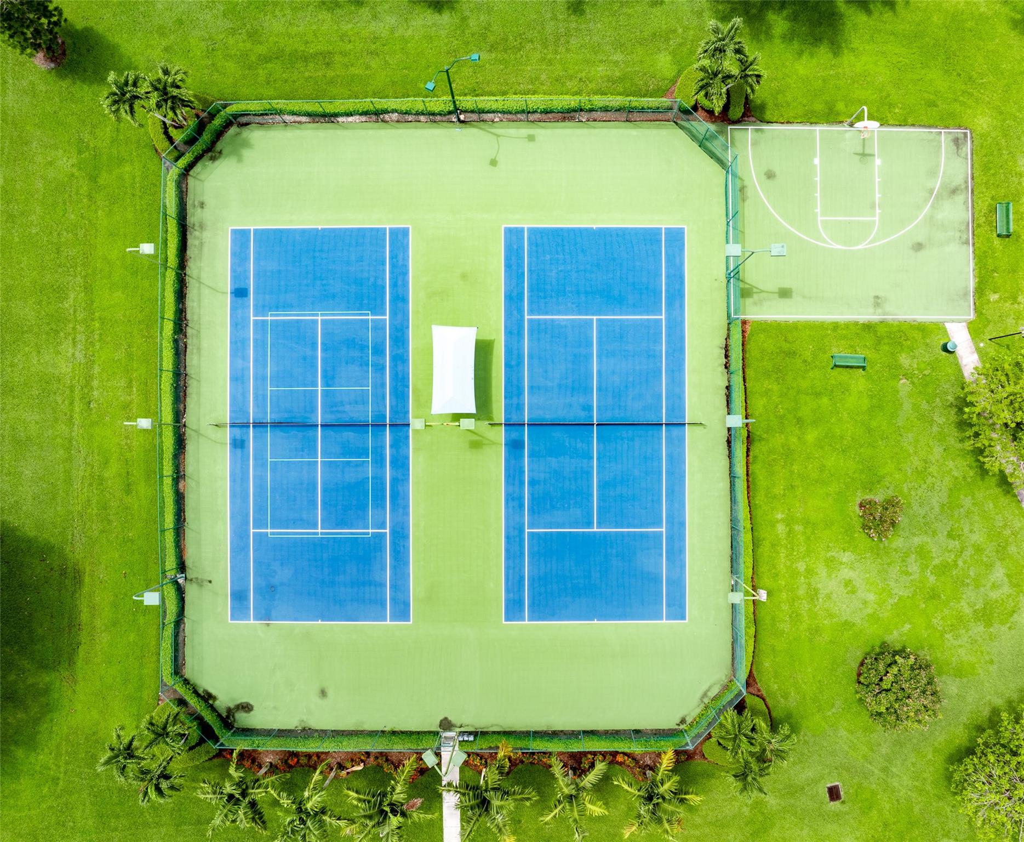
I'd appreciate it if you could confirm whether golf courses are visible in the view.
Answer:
No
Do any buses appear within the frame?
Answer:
No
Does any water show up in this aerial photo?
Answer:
No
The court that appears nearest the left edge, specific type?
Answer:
tennis court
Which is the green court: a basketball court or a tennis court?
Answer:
basketball court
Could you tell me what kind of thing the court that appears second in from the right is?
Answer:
tennis court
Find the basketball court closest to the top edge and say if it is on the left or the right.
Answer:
right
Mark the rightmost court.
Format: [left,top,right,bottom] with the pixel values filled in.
[675,122,976,322]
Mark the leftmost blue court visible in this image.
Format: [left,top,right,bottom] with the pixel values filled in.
[229,227,411,623]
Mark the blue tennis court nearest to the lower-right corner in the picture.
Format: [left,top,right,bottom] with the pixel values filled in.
[503,226,687,622]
